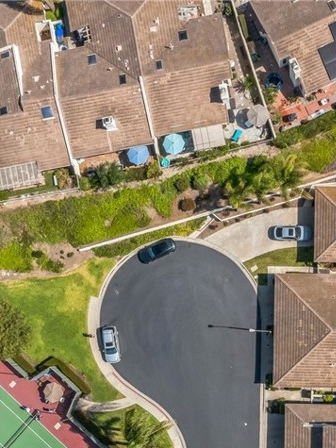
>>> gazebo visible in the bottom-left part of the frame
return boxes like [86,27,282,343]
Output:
[43,380,70,404]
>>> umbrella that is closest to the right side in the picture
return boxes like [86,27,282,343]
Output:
[244,106,266,129]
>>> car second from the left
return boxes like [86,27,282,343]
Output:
[138,236,177,263]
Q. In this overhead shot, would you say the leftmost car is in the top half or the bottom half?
bottom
